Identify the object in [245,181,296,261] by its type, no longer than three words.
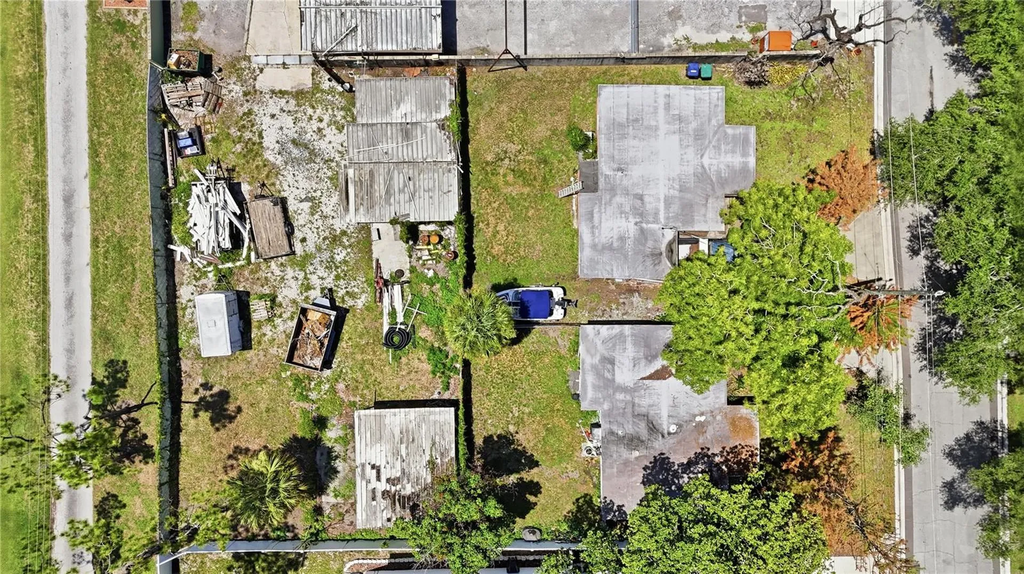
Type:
trailer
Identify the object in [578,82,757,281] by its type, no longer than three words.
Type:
house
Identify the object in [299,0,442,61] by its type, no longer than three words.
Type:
shed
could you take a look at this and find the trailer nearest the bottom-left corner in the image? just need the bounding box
[195,275,244,357]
